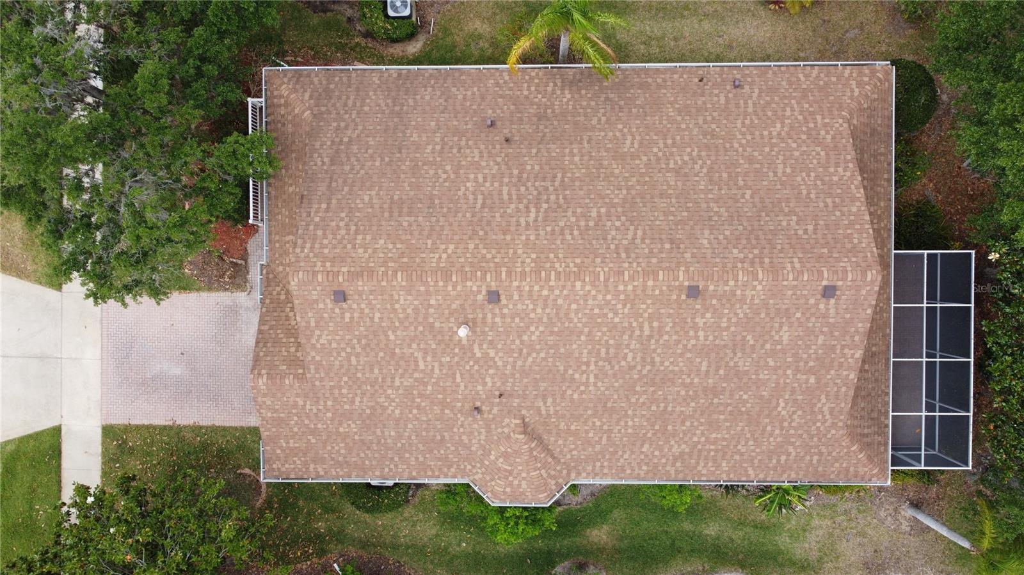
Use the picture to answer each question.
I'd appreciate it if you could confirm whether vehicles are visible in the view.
No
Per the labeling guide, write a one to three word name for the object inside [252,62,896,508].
house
